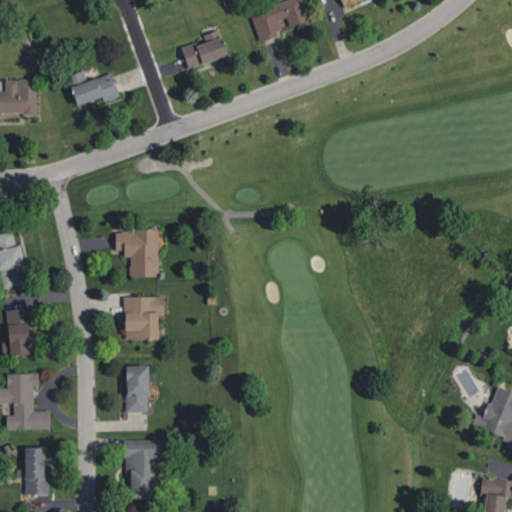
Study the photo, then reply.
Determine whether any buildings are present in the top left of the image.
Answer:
Yes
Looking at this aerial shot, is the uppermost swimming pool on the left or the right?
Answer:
right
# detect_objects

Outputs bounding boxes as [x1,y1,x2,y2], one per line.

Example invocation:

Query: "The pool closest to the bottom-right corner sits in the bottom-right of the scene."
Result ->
[448,468,477,505]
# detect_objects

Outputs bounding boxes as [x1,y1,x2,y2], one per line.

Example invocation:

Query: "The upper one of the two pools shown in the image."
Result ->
[453,365,490,413]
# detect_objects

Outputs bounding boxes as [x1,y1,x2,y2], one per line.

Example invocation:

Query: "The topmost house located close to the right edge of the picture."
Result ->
[472,383,512,440]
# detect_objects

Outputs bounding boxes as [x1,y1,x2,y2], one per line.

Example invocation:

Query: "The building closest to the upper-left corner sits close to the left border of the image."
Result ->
[0,80,38,115]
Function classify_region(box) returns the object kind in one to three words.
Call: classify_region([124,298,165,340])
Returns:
house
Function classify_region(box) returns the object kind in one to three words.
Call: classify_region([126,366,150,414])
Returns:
house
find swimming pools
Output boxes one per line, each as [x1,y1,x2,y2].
[453,365,490,413]
[448,468,477,505]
